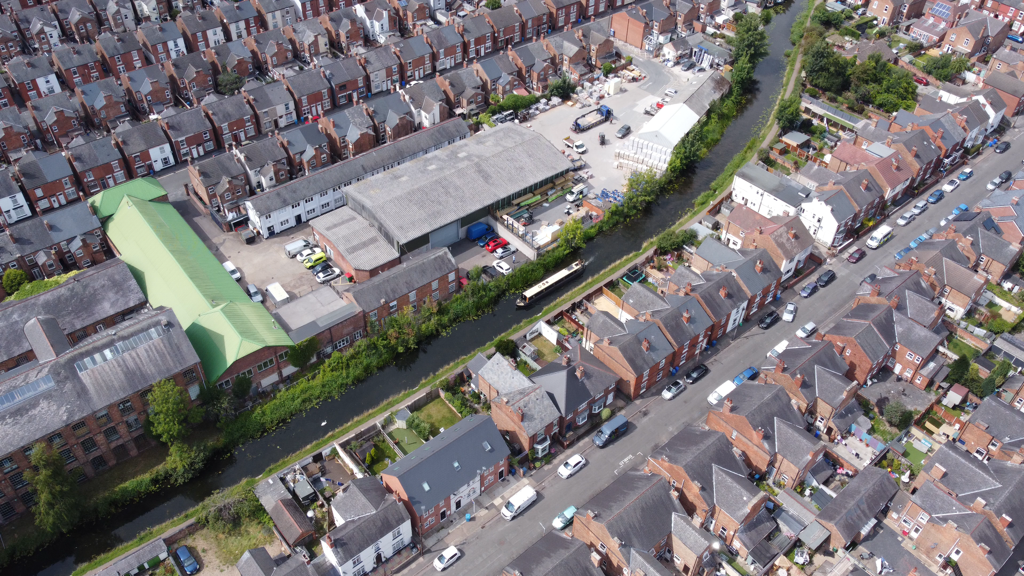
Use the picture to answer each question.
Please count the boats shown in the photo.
1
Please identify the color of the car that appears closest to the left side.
blue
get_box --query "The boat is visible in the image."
[519,259,586,309]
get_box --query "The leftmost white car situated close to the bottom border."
[431,545,464,571]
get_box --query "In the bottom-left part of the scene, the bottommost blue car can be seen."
[174,545,199,576]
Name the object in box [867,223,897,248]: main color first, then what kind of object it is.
white vehicle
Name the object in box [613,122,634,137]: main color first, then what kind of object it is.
gray car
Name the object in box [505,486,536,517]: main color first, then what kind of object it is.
white van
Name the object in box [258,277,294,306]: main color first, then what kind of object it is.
white truck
